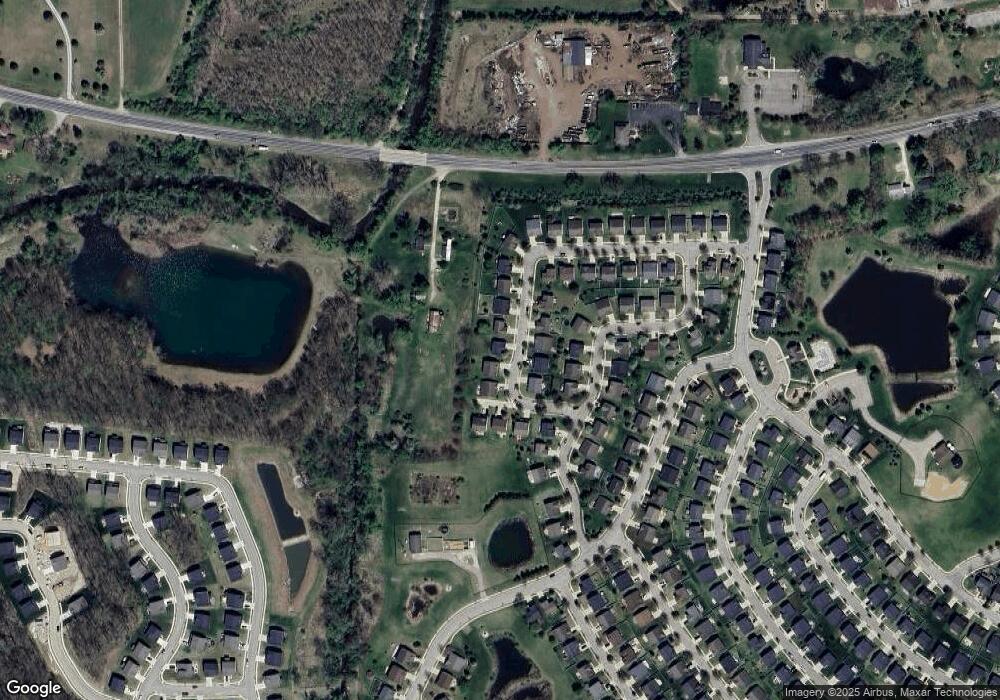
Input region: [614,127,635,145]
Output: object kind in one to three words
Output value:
building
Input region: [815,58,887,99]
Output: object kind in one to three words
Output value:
pond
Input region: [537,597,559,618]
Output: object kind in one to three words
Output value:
house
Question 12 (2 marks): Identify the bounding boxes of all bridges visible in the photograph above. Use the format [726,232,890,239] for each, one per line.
[380,145,428,169]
